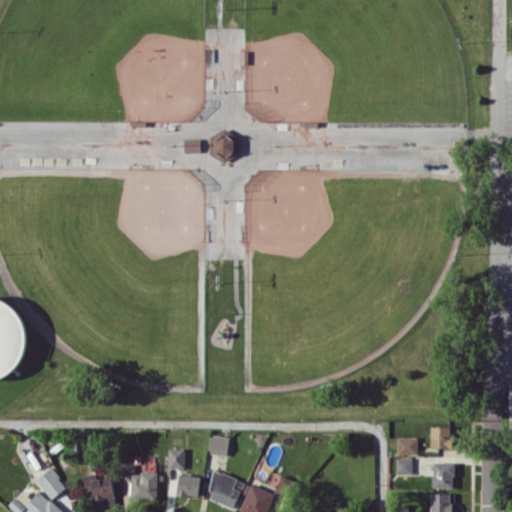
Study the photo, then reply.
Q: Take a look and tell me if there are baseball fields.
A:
Yes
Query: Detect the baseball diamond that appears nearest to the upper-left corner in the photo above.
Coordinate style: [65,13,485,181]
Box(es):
[0,0,204,122]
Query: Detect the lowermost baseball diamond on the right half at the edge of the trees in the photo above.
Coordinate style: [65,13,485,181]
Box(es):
[246,164,466,392]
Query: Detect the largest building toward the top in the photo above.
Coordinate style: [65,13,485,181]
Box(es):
[210,131,238,162]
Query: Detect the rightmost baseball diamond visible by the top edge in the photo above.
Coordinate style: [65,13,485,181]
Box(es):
[246,0,469,127]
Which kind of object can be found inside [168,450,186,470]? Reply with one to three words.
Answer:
building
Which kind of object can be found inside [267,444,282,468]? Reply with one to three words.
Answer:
swimming pool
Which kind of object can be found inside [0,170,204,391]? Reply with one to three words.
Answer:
baseball field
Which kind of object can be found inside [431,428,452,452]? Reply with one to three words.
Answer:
house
